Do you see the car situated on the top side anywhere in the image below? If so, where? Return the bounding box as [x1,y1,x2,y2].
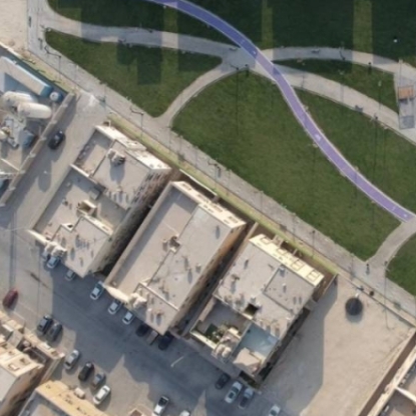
[46,128,65,149]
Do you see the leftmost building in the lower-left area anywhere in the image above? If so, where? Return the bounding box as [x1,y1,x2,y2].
[0,323,52,416]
